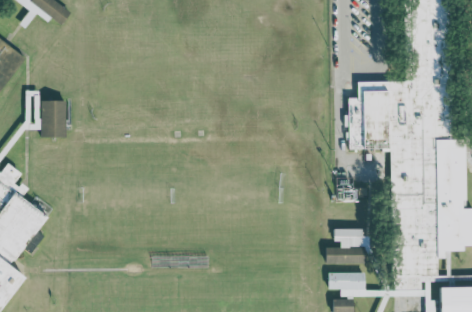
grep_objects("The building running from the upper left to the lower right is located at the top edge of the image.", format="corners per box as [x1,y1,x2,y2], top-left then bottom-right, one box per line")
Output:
[32,0,71,24]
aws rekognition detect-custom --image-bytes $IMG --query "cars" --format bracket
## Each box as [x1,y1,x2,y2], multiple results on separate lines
[363,40,371,48]
[364,18,372,26]
[334,56,339,66]
[364,24,372,34]
[333,16,338,26]
[334,30,338,40]
[352,0,360,8]
[352,6,360,16]
[353,24,362,32]
[362,8,370,18]
[362,0,370,10]
[352,14,360,23]
[333,4,338,13]
[363,32,371,42]
[352,32,360,40]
